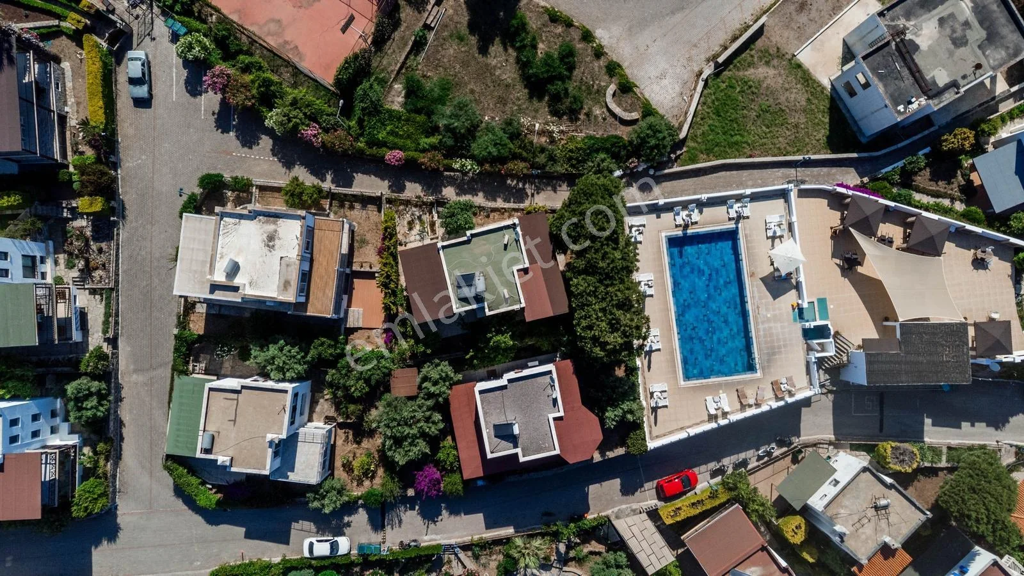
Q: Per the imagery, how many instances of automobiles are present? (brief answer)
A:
3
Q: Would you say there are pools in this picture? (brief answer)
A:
Yes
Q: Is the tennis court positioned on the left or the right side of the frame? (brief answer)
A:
left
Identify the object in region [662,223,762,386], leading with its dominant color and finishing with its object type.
blue swimming pool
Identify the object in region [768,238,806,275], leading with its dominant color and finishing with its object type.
white umbrella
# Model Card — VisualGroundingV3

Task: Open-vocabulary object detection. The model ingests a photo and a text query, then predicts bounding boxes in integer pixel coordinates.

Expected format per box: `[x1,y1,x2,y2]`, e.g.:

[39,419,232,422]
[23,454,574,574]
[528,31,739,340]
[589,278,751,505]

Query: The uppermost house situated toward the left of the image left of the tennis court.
[0,33,78,170]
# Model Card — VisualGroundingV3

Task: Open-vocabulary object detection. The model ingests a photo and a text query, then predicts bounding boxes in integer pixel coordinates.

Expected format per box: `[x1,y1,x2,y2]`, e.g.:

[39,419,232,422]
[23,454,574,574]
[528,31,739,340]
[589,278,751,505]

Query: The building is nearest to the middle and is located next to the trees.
[399,213,569,323]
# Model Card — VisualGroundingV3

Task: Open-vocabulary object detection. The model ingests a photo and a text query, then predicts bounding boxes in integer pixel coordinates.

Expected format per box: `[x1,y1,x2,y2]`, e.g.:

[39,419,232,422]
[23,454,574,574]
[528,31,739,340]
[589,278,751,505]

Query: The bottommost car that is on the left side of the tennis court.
[126,51,154,101]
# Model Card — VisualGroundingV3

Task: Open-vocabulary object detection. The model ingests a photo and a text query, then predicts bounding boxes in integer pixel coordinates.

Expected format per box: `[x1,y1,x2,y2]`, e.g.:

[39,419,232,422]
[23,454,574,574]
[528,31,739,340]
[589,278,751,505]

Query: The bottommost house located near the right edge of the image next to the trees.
[896,518,1013,576]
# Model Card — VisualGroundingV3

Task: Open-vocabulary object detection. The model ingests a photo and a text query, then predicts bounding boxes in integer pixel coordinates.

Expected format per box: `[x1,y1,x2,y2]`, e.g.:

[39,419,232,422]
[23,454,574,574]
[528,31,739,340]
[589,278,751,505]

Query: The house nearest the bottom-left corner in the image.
[0,392,93,518]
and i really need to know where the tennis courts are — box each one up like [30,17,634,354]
[220,0,391,83]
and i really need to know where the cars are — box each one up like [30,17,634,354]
[654,470,698,497]
[304,533,352,559]
[126,51,154,101]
